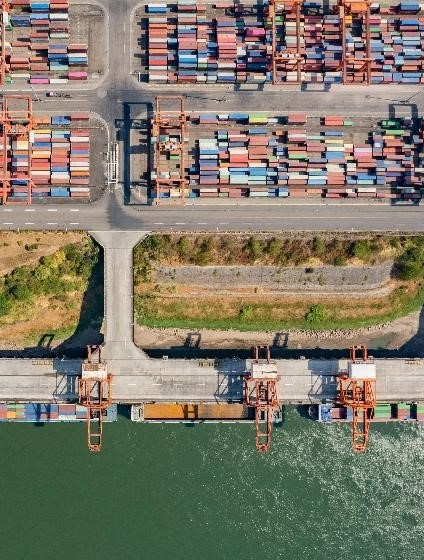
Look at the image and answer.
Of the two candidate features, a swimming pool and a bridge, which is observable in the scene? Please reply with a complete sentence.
It is a bridge that can be seen here.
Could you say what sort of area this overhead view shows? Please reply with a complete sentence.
The area seen from above is a port.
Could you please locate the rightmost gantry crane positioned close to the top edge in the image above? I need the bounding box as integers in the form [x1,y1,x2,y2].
[328,0,372,87]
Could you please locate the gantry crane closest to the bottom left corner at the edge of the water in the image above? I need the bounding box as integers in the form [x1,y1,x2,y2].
[72,344,112,453]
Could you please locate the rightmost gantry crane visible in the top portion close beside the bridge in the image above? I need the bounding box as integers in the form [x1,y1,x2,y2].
[145,95,186,207]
